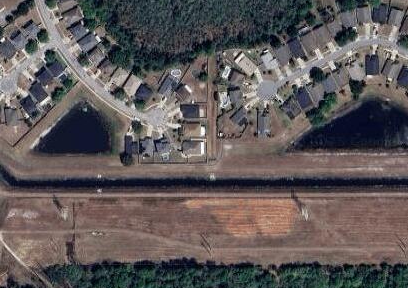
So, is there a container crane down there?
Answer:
No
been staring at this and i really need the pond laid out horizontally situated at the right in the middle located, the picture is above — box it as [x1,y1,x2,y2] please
[289,98,408,151]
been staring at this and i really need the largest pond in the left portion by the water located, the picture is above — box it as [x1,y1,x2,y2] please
[34,102,110,154]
